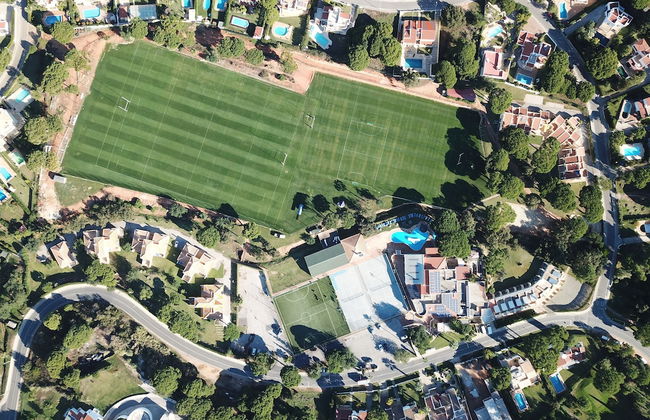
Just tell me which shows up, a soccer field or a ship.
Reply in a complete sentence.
The one in the frame is a soccer field.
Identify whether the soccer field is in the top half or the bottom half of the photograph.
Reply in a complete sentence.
The soccer field sits in the top half of the picture.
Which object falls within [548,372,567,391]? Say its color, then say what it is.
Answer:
blue swimming pool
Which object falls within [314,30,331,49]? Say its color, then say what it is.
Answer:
blue swimming pool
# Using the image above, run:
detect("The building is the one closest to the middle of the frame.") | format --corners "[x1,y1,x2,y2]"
[303,233,369,275]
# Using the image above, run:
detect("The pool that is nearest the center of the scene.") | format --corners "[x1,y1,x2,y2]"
[390,227,430,252]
